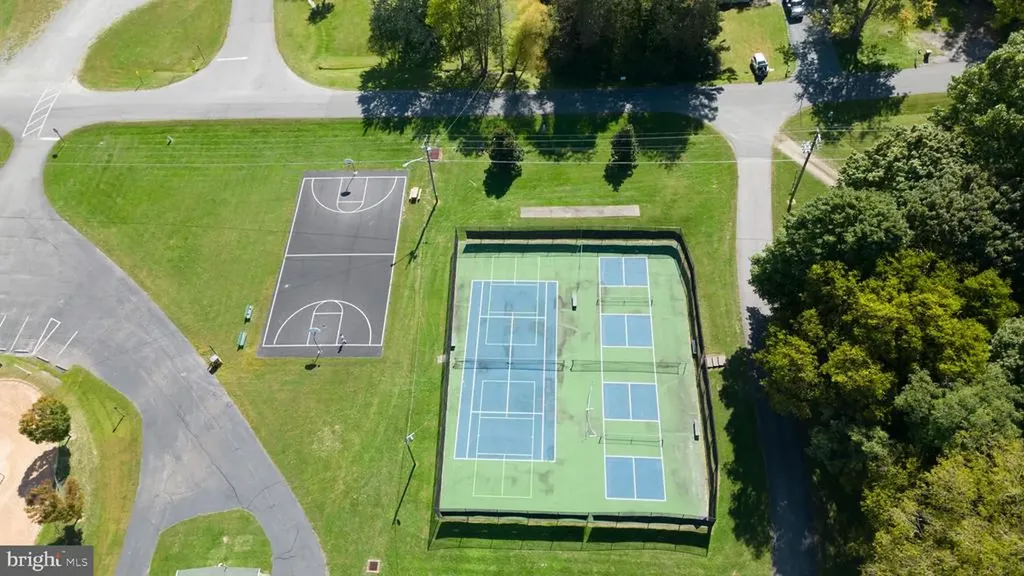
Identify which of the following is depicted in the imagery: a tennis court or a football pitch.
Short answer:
tennis court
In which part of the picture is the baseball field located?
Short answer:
bottom left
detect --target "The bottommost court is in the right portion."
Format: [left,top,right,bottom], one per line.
[602,382,666,501]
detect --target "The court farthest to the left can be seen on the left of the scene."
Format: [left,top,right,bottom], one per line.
[257,171,410,357]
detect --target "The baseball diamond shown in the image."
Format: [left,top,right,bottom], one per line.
[0,378,64,576]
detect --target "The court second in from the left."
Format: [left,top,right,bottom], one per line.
[454,255,558,498]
